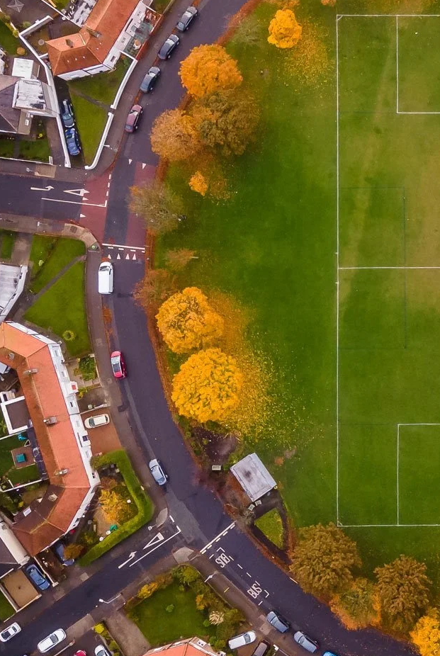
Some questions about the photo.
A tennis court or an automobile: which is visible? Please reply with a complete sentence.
I can see an automobile in this picture.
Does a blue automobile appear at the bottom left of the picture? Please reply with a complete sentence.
Yes, a blue automobile is visible at the bottom left of the picture.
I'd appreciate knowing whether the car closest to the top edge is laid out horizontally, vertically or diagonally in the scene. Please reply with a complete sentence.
In this picture, the car closest to the top edge lies diagonally.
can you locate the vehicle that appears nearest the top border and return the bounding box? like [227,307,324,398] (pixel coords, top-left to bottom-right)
[175,4,200,33]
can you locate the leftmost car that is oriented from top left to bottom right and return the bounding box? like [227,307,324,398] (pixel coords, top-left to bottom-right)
[26,563,52,592]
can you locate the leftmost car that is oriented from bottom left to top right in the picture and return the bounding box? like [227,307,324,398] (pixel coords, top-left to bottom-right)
[0,620,25,645]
